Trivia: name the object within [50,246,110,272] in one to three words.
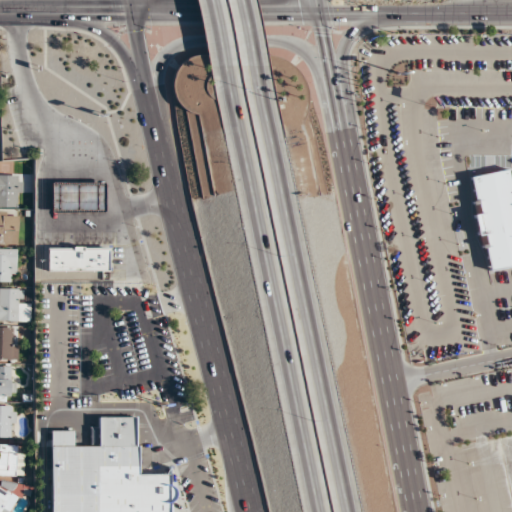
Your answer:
building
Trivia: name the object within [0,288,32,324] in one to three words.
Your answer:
house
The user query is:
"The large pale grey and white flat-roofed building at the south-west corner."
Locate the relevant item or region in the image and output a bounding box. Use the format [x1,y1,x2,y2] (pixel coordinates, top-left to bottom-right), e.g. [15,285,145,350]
[53,414,178,512]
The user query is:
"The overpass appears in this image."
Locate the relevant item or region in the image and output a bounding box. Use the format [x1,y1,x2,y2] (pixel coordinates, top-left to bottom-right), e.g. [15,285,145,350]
[198,0,361,512]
